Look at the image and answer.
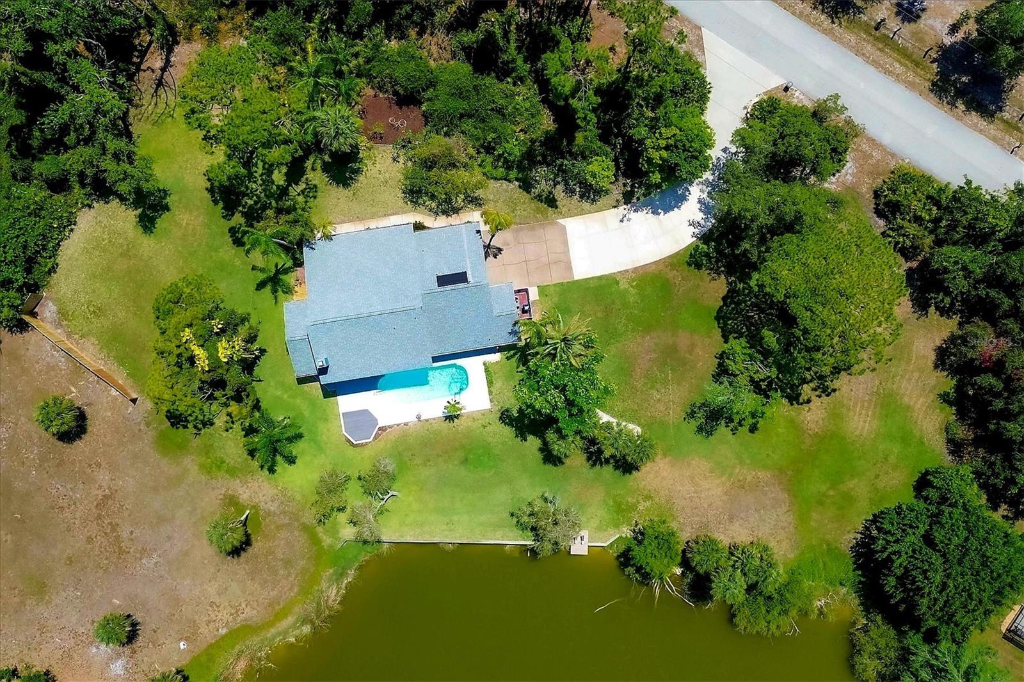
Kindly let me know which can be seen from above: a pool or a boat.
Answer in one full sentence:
Looking from above, you can make out a pool.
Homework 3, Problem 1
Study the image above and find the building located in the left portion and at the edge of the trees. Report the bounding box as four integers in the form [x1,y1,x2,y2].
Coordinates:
[284,221,521,385]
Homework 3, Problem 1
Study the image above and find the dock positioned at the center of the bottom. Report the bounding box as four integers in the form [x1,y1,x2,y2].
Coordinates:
[570,530,589,556]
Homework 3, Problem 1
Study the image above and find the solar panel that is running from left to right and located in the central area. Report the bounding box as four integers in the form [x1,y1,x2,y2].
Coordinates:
[436,270,468,286]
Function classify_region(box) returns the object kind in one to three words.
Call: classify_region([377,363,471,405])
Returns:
swimming pool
